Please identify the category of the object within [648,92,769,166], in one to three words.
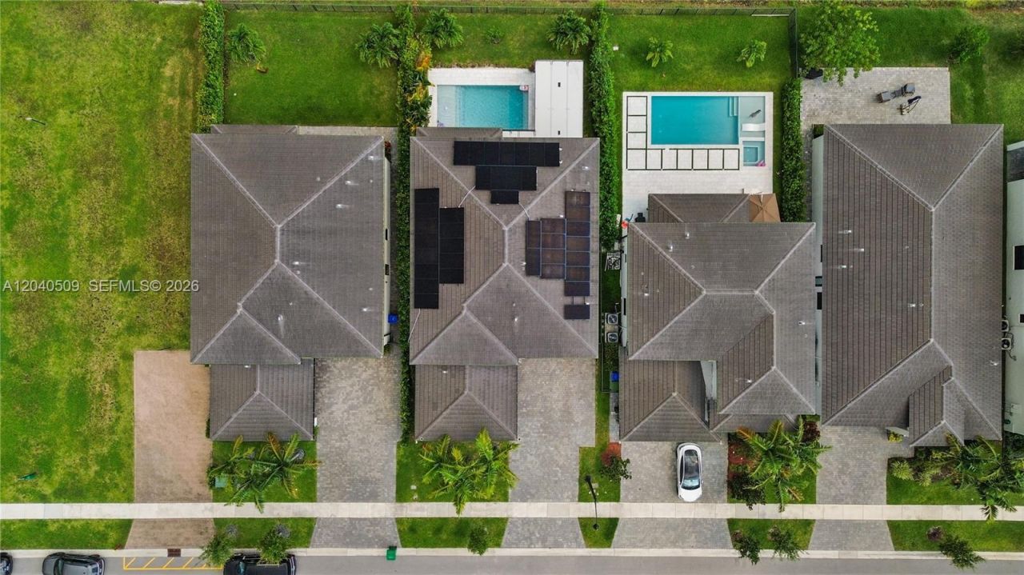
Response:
swimming pool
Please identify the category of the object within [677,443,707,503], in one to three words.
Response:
car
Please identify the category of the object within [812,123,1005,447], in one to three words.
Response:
house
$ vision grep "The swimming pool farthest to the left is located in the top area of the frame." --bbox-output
[433,81,532,131]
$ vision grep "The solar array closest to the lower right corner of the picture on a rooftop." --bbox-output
[565,305,590,319]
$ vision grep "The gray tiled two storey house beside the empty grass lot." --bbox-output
[189,124,398,442]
